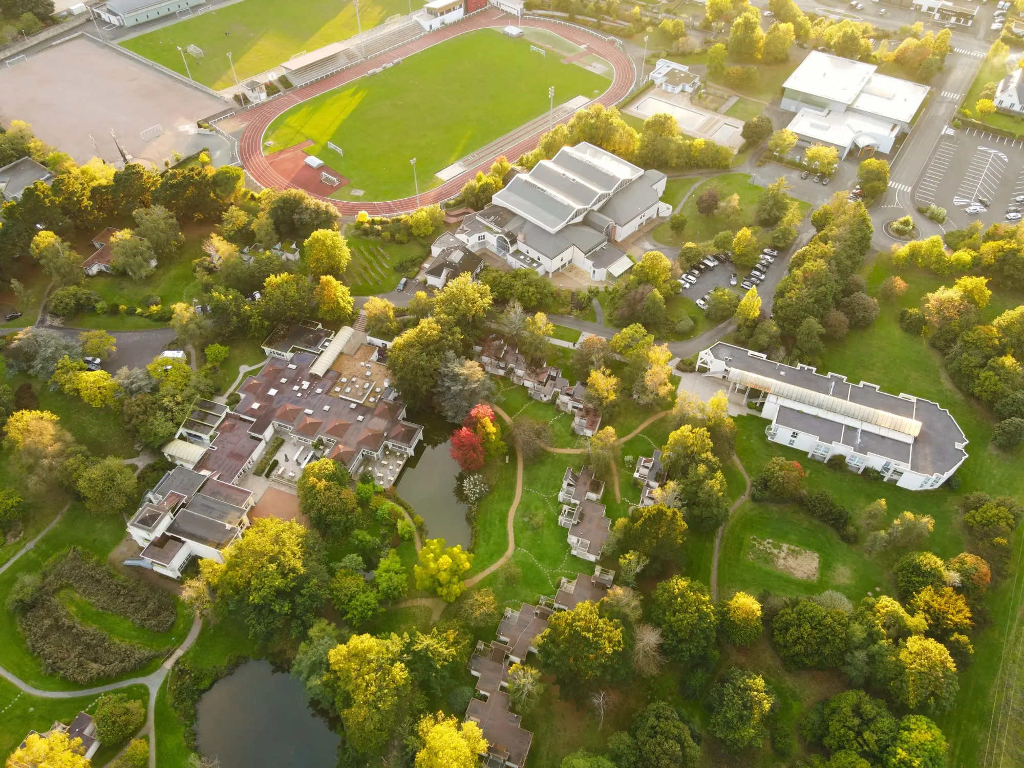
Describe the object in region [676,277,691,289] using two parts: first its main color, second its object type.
white vehicle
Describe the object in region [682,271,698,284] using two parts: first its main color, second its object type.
white vehicle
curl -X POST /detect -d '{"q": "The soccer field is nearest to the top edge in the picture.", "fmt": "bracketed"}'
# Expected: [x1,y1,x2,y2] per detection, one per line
[117,0,435,91]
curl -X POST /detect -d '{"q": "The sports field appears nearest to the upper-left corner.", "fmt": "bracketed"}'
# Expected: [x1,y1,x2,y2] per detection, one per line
[0,35,227,166]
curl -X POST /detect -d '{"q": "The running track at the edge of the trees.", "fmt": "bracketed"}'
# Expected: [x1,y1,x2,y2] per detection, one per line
[210,9,634,216]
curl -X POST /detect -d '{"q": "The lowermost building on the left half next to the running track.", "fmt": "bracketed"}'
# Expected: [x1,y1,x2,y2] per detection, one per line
[121,317,425,576]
